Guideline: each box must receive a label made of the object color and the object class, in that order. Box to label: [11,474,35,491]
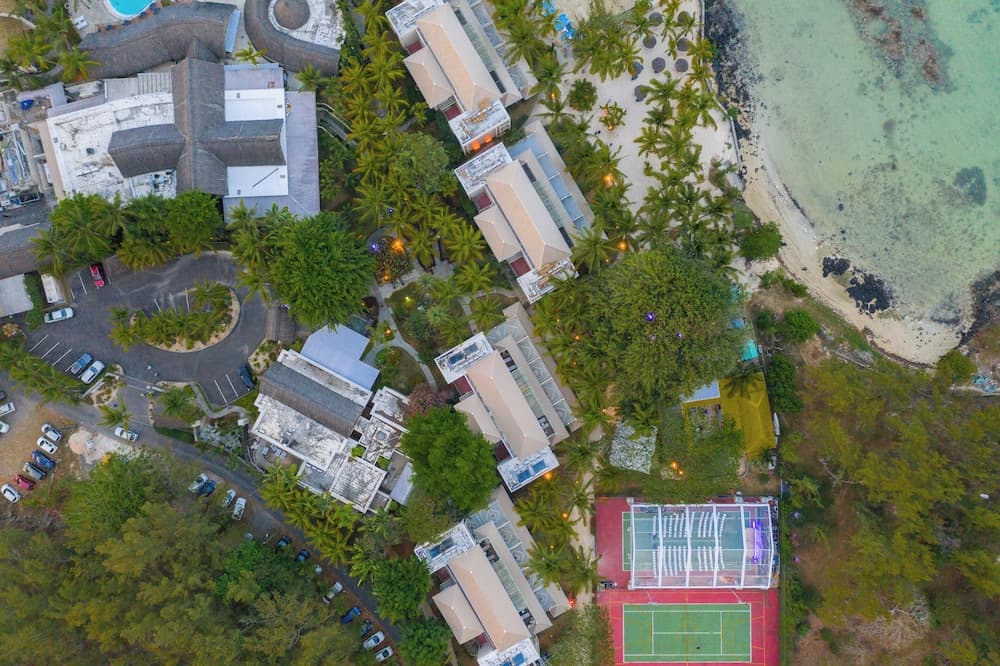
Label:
red car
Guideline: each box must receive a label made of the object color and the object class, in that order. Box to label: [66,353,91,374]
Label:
blue car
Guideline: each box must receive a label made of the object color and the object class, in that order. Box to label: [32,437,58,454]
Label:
white car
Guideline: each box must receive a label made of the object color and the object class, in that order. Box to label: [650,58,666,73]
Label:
gray umbrella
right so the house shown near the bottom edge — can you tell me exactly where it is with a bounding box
[415,482,574,666]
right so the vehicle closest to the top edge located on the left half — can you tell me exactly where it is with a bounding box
[86,262,104,286]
